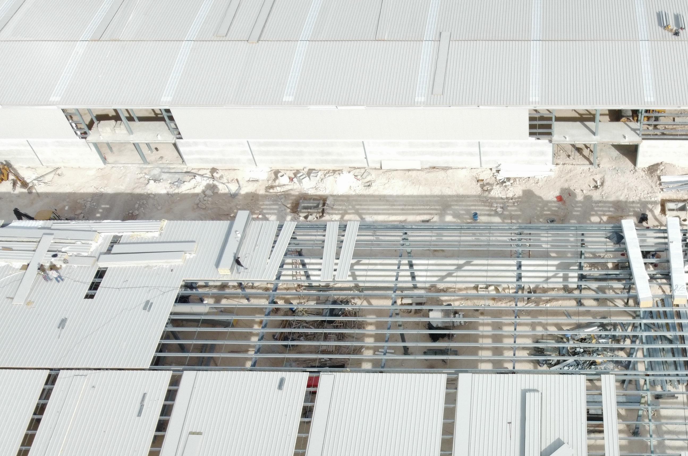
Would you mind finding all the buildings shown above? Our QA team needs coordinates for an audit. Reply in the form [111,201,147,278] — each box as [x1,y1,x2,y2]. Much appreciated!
[0,0,688,168]
[0,220,688,456]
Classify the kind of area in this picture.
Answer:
industrial area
